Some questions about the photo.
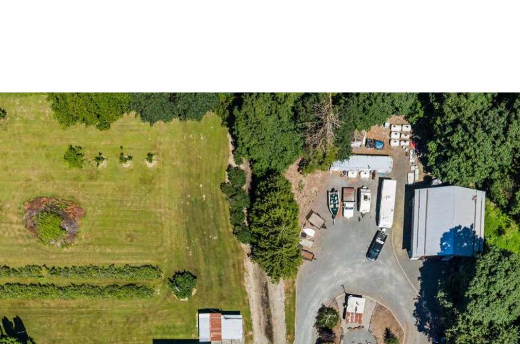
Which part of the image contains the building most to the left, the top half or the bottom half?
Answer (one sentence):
It is in the bottom half that the building most to the left appears.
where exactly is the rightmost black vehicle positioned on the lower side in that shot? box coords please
[368,228,389,260]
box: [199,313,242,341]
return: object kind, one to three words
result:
building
